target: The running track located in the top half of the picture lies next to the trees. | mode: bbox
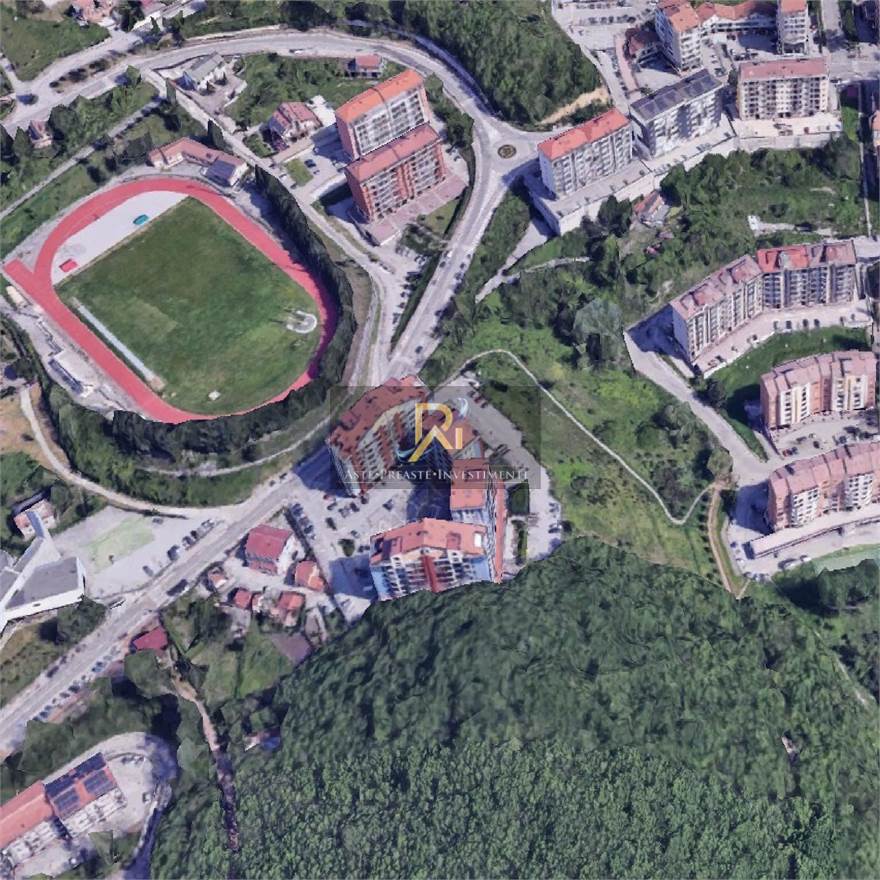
[32,179,334,433]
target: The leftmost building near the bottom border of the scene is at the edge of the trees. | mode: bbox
[0,765,64,878]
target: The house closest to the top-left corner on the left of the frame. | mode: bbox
[74,2,119,28]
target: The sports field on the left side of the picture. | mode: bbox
[3,179,334,433]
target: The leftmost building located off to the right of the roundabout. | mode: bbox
[538,107,634,198]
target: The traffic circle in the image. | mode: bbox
[478,131,535,172]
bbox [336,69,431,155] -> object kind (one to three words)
building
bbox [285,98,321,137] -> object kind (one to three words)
house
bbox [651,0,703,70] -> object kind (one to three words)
building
